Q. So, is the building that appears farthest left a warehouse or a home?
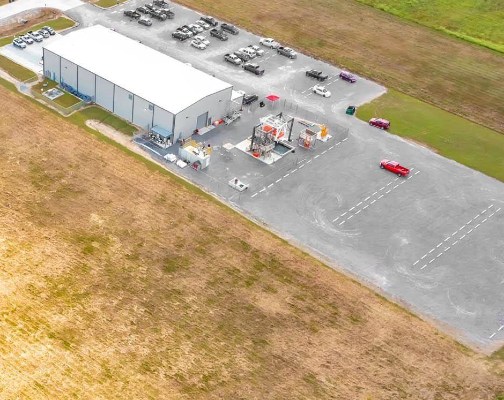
warehouse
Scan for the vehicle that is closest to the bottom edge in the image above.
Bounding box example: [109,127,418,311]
[379,160,410,178]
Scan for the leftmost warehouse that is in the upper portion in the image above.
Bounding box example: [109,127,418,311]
[39,22,233,144]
